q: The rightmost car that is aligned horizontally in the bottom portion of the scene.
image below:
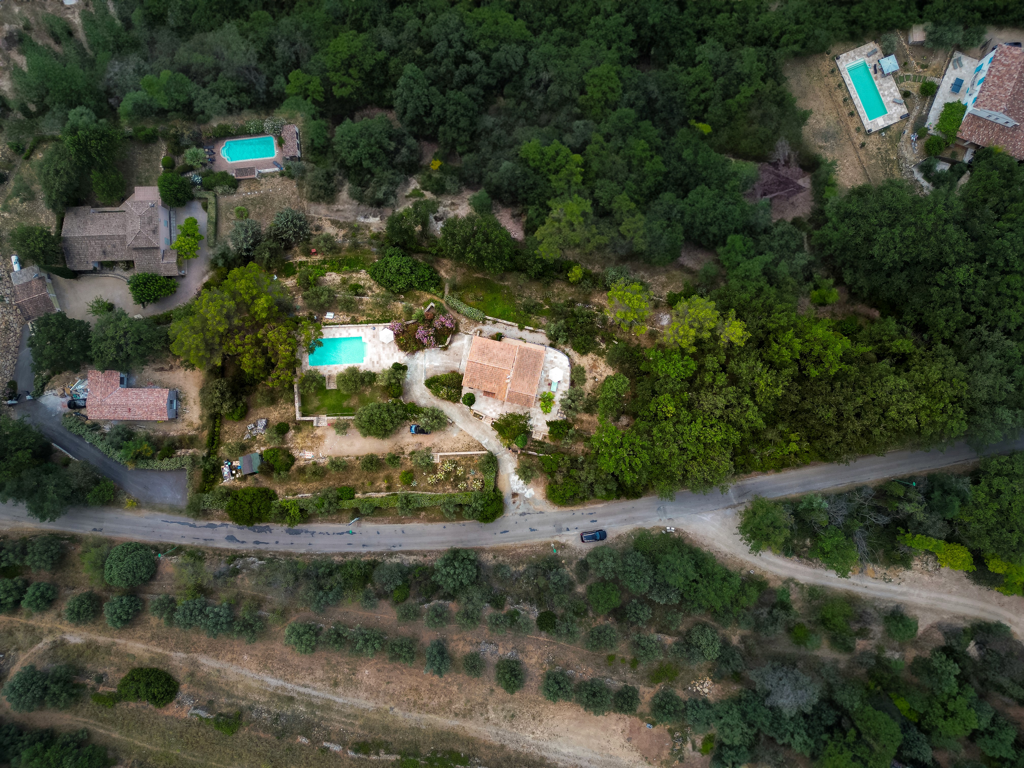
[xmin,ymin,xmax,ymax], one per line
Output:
[580,529,607,542]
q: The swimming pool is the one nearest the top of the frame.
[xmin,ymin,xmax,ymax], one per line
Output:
[845,57,889,122]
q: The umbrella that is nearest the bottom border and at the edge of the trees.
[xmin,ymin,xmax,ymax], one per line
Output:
[549,367,563,382]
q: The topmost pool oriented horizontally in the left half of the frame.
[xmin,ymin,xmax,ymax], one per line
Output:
[218,134,277,164]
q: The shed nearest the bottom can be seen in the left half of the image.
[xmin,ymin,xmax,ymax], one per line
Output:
[239,453,264,475]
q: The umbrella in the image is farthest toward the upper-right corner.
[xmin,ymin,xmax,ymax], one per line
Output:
[878,54,899,75]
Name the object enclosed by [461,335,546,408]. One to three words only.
house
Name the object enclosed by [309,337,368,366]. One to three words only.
swimming pool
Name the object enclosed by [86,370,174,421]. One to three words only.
house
